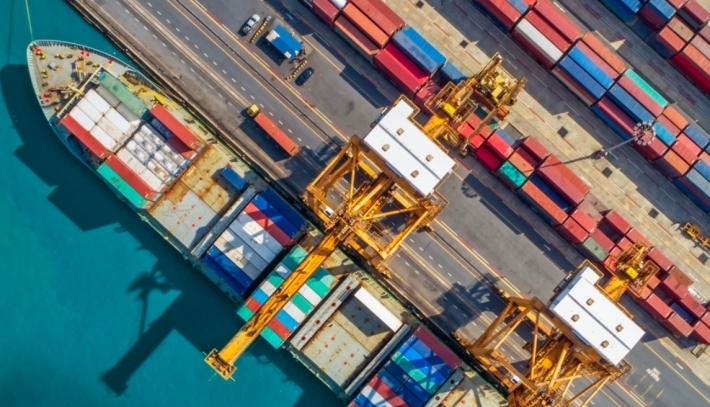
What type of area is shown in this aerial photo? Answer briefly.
port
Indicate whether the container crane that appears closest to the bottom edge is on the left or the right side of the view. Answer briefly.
right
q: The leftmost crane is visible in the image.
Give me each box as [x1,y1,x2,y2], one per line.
[202,78,478,379]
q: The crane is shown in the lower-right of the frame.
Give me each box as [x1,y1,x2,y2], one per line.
[454,242,661,407]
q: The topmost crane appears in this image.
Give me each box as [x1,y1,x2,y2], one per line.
[447,50,525,157]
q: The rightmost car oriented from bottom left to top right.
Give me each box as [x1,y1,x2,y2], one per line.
[294,67,313,85]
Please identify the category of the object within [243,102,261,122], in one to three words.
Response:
vehicle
